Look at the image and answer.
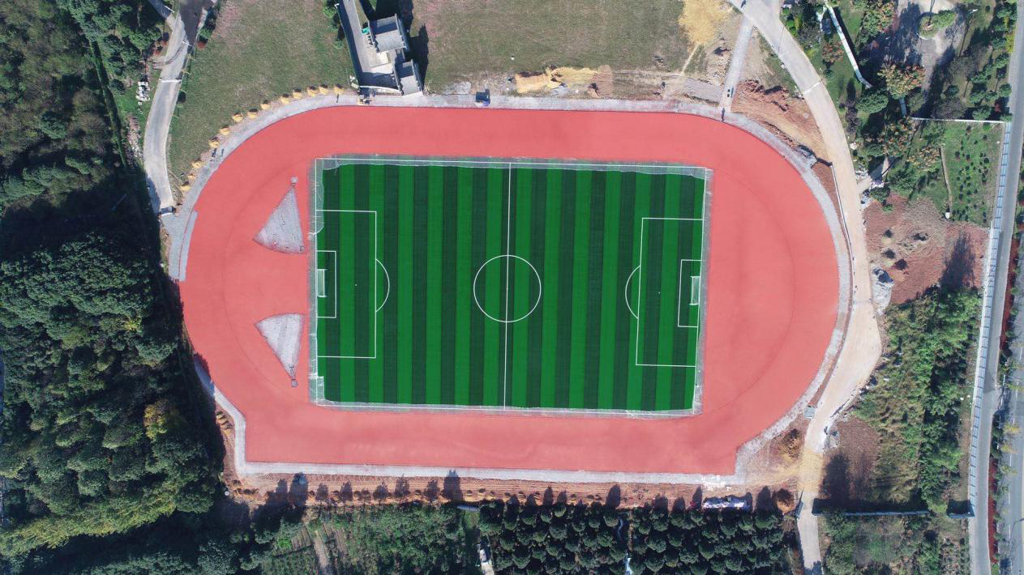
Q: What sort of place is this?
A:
sports ground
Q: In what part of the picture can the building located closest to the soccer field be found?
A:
top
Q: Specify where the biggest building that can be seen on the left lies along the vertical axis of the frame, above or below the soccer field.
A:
above it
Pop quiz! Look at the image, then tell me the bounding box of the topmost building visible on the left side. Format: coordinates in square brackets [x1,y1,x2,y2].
[370,12,409,59]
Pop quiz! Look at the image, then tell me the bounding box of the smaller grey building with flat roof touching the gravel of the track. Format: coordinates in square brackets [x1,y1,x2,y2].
[394,58,423,99]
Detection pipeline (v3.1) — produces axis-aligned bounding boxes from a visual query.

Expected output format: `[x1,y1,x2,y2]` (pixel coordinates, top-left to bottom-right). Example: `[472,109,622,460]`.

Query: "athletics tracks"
[179,105,839,476]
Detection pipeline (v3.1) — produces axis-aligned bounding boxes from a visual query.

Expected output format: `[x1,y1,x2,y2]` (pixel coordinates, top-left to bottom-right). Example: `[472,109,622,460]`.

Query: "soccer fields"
[308,154,713,419]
